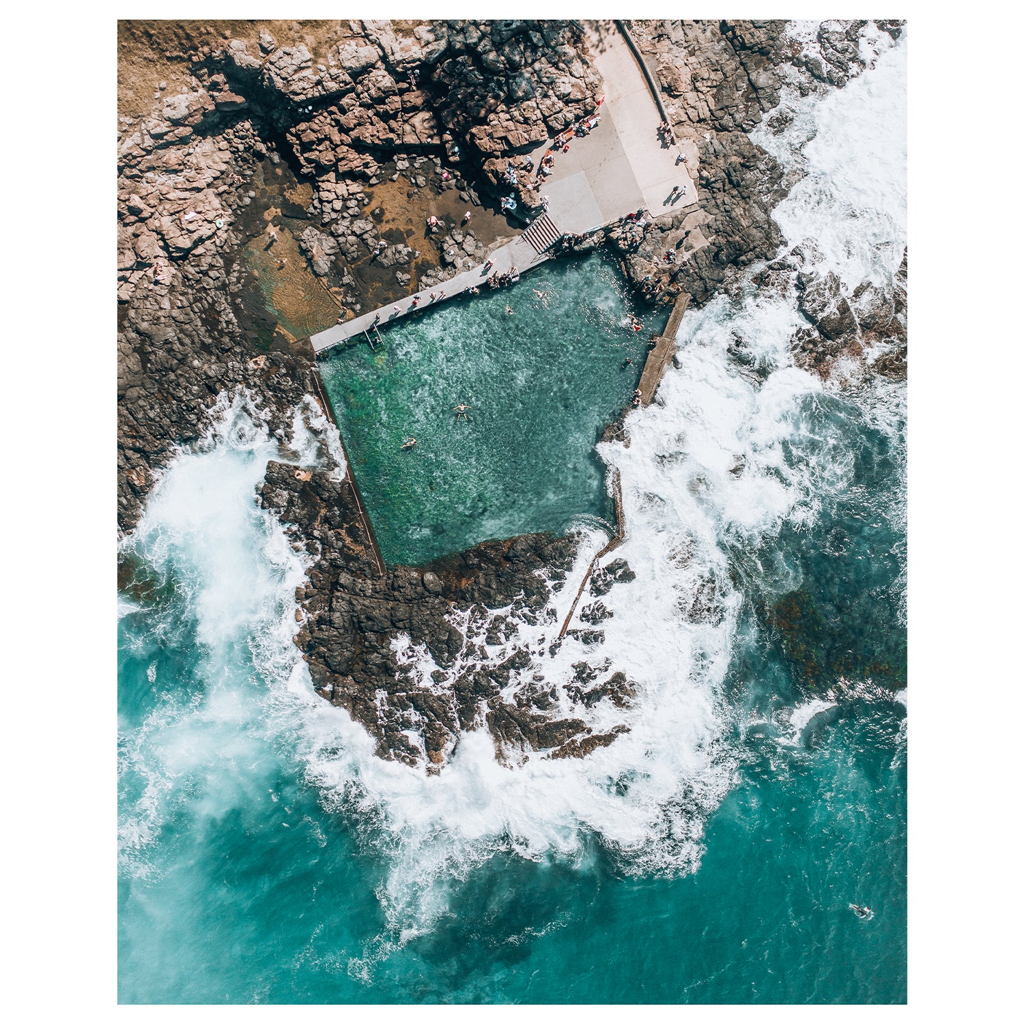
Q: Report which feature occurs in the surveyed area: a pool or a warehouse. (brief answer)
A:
pool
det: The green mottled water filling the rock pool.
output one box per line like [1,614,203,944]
[320,246,672,569]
